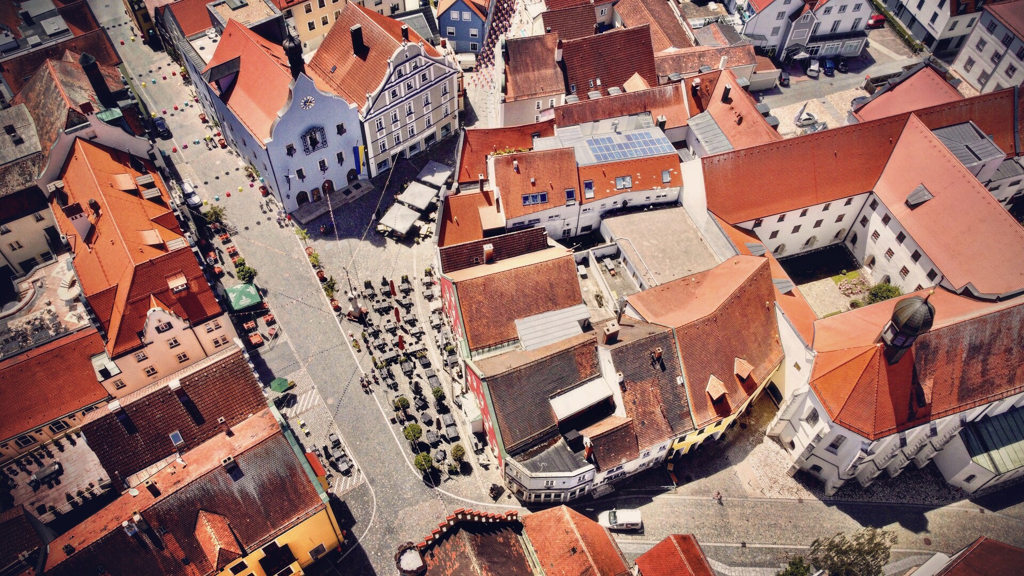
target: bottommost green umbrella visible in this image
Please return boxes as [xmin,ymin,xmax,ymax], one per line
[271,377,289,400]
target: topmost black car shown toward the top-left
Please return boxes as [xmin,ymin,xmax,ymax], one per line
[150,117,174,140]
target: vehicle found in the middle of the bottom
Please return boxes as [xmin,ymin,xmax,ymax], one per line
[596,504,644,531]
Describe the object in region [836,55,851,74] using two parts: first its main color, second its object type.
black car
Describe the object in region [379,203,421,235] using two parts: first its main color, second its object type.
white umbrella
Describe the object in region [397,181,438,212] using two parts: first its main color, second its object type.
white umbrella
